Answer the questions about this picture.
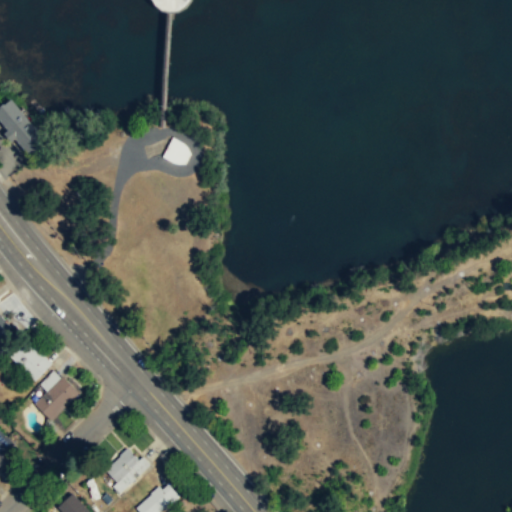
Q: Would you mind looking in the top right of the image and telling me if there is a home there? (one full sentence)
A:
No, no home is visible in the top right of the image.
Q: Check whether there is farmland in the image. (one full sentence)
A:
No, there is no farmland in the image.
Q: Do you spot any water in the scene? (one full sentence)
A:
Yes, water shows up in the scene.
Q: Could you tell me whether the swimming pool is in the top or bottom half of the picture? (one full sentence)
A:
The bottom half of the photo is where the swimming pool is.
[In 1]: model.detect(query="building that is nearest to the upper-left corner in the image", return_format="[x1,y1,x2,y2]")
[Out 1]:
[0,91,35,152]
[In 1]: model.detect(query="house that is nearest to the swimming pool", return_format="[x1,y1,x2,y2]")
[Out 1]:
[36,370,78,420]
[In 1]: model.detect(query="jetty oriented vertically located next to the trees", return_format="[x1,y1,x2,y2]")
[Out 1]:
[152,0,193,129]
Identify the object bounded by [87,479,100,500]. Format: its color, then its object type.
white vehicle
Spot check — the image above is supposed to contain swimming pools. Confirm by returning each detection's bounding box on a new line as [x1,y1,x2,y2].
[24,404,46,432]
